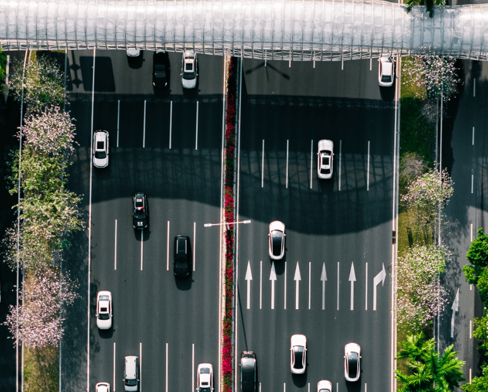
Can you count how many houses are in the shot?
0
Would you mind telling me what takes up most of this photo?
paved ground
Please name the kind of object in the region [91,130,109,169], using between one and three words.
car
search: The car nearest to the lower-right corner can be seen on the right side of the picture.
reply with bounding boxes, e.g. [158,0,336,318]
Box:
[343,343,361,381]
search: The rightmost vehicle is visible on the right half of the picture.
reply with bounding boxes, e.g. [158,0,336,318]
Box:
[378,61,395,91]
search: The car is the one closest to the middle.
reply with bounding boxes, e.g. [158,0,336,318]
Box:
[267,220,287,260]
